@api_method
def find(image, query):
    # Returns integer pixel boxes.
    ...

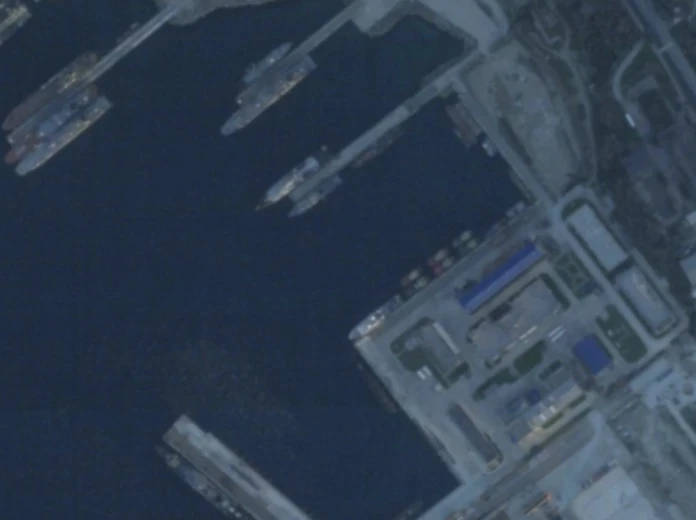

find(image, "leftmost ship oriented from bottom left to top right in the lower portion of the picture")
[348,291,402,339]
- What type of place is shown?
port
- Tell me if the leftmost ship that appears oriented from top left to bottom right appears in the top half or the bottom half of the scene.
bottom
